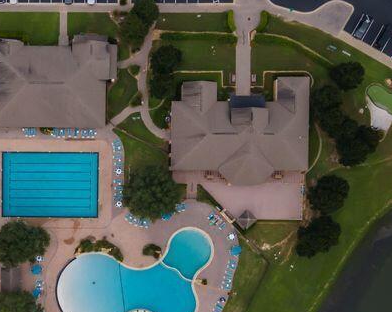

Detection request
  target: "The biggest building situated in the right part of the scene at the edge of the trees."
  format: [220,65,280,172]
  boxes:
[169,77,310,186]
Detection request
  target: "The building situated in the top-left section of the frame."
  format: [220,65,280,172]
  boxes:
[0,35,118,129]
